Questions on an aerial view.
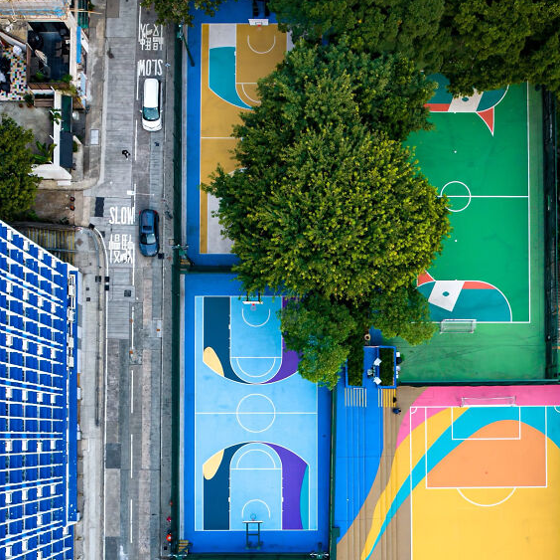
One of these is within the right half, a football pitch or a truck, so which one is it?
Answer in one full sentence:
The one visible within the right half is a football pitch.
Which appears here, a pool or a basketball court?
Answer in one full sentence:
This aerial view contains a basketball court.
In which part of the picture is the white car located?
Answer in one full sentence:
The white car is located in the top left region of the scene.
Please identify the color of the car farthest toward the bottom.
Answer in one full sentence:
The car farthest toward the bottom is blue.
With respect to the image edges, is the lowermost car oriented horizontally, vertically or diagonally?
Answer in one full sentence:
The lowermost car has been laid out vertically relative to the frame.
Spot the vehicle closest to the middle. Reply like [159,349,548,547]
[136,209,159,259]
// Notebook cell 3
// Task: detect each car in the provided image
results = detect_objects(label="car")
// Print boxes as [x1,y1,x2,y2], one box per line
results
[138,75,161,130]
[136,209,159,259]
